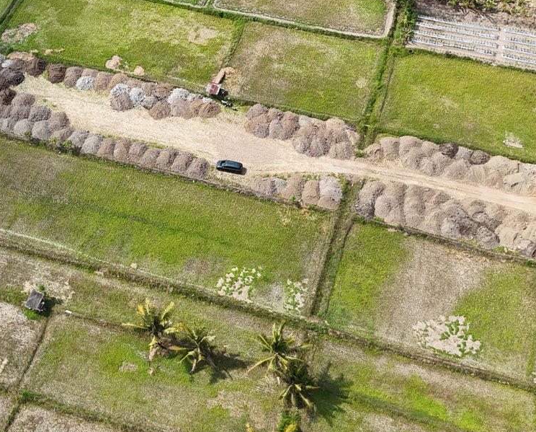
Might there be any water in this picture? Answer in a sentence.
No, the picture contains no water.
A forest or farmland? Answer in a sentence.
What you see here is farmland.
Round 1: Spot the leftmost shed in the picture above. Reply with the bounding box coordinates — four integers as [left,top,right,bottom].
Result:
[21,288,46,312]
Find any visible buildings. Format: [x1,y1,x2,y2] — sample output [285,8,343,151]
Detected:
[207,79,224,99]
[21,288,46,312]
